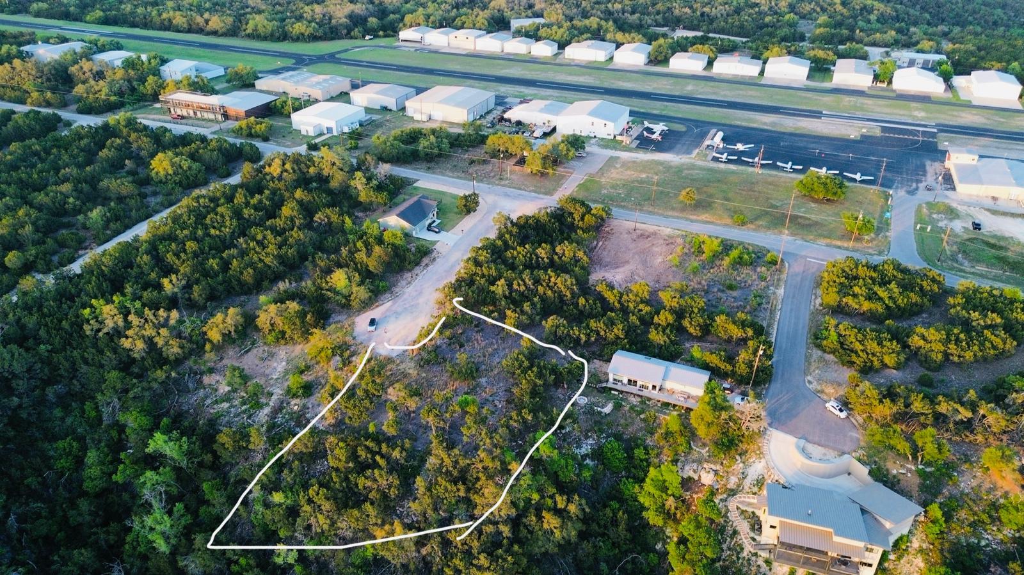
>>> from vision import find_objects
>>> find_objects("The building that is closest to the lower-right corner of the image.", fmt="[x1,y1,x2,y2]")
[755,482,924,575]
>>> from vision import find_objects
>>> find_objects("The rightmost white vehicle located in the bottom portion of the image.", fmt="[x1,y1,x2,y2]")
[824,404,850,418]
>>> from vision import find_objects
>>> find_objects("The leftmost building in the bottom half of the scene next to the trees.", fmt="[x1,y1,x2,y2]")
[601,351,707,419]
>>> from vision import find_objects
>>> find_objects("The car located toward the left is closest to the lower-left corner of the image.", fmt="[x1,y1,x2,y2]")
[366,316,379,331]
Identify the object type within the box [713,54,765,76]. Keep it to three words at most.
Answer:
hangar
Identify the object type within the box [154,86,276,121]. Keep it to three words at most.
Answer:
building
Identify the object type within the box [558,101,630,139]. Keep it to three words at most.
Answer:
hangar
